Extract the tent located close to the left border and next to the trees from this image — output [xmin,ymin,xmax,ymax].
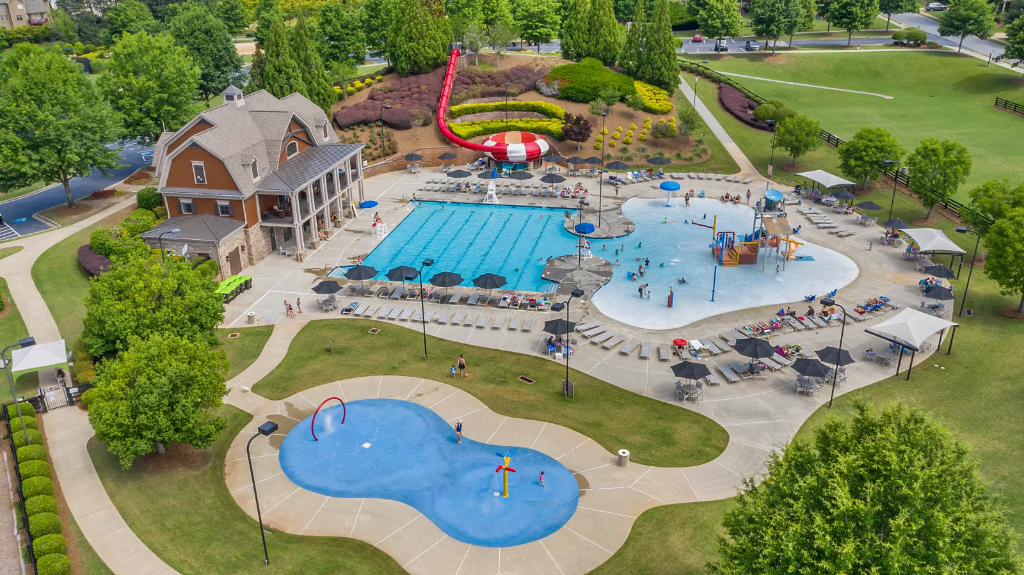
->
[11,341,73,400]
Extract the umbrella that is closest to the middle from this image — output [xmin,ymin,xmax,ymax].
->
[474,272,508,306]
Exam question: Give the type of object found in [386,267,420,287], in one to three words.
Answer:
umbrella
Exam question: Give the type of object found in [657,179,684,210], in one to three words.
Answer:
fountain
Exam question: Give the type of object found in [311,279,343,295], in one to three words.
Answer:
umbrella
